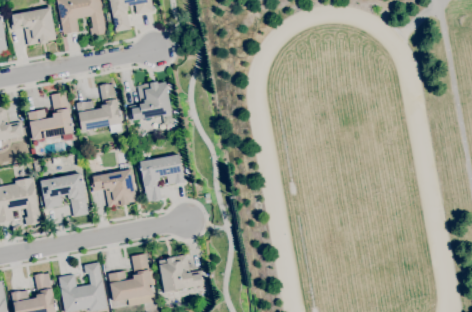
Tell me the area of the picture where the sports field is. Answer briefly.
right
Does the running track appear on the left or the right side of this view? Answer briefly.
right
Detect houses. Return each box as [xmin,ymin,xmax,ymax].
[140,155,184,202]
[27,93,74,154]
[110,0,154,30]
[0,176,40,226]
[10,272,56,312]
[90,170,136,208]
[40,174,86,218]
[0,280,8,312]
[158,260,205,301]
[76,82,122,134]
[106,253,158,312]
[58,262,106,312]
[132,80,174,130]
[0,106,24,142]
[11,6,54,44]
[56,0,104,36]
